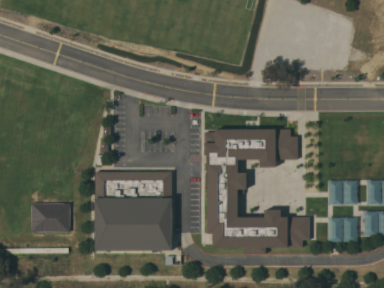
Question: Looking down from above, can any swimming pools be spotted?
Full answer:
No, there's no swimming pool here.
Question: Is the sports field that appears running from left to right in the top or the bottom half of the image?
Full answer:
Seen from above, the sports field that appears running from left to right lies in the top half of the view.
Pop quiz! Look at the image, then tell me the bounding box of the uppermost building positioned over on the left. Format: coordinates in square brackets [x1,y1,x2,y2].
[94,170,172,198]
